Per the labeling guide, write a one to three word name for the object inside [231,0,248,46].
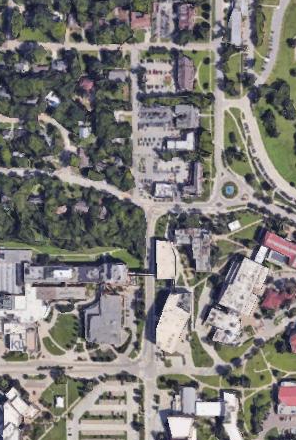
building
